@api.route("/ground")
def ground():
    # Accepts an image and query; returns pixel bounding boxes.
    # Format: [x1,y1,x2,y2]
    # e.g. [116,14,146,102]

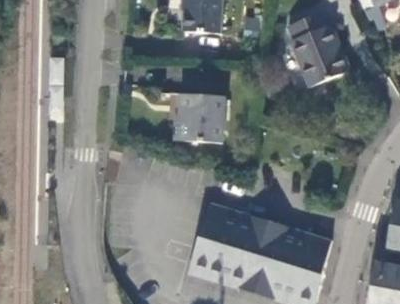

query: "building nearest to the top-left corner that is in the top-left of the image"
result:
[49,58,66,86]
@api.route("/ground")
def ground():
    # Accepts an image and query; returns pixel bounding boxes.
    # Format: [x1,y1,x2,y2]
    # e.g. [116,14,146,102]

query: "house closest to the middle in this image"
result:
[173,94,228,144]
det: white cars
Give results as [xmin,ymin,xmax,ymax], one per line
[221,184,244,198]
[198,38,220,48]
